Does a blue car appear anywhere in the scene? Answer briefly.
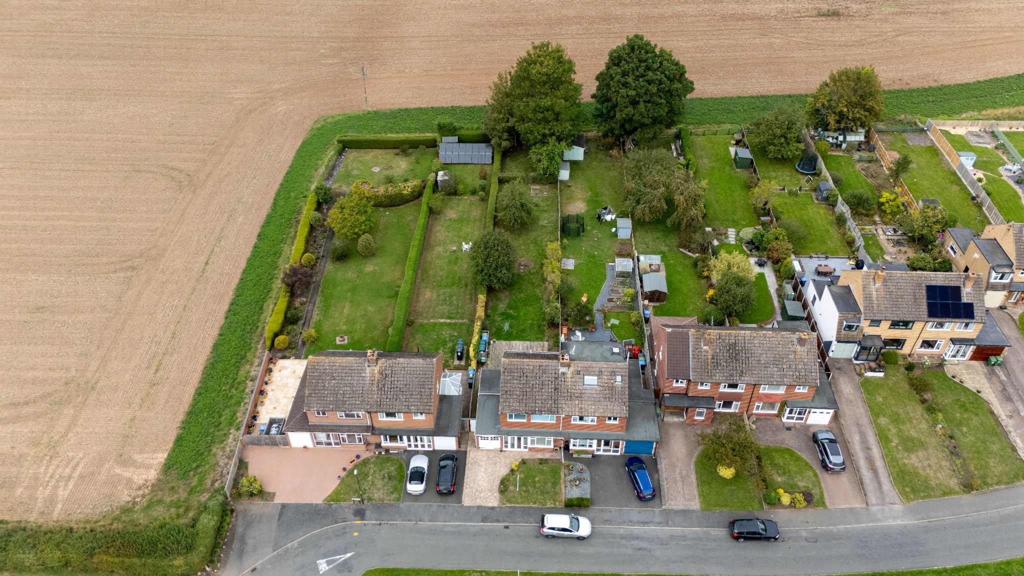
Yes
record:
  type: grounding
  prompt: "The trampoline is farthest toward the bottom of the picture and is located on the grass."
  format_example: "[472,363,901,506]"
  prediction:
[562,215,584,239]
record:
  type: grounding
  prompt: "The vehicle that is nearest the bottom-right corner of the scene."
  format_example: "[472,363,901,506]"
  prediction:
[814,431,848,472]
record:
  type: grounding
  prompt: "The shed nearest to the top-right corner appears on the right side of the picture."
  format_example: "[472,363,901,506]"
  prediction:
[956,149,980,168]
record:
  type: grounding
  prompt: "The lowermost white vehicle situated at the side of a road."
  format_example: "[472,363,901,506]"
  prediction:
[541,515,592,542]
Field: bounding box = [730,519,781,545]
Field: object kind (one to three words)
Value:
car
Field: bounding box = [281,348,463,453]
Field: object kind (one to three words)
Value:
house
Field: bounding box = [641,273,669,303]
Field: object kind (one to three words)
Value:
shed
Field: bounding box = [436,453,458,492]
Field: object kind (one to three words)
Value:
car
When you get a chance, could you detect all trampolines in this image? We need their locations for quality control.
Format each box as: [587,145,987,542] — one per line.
[795,150,824,176]
[562,215,584,239]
